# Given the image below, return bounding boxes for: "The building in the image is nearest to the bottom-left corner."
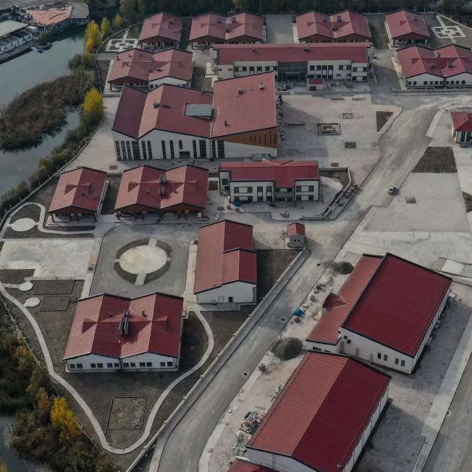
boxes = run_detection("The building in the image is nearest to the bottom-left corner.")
[63,291,184,371]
